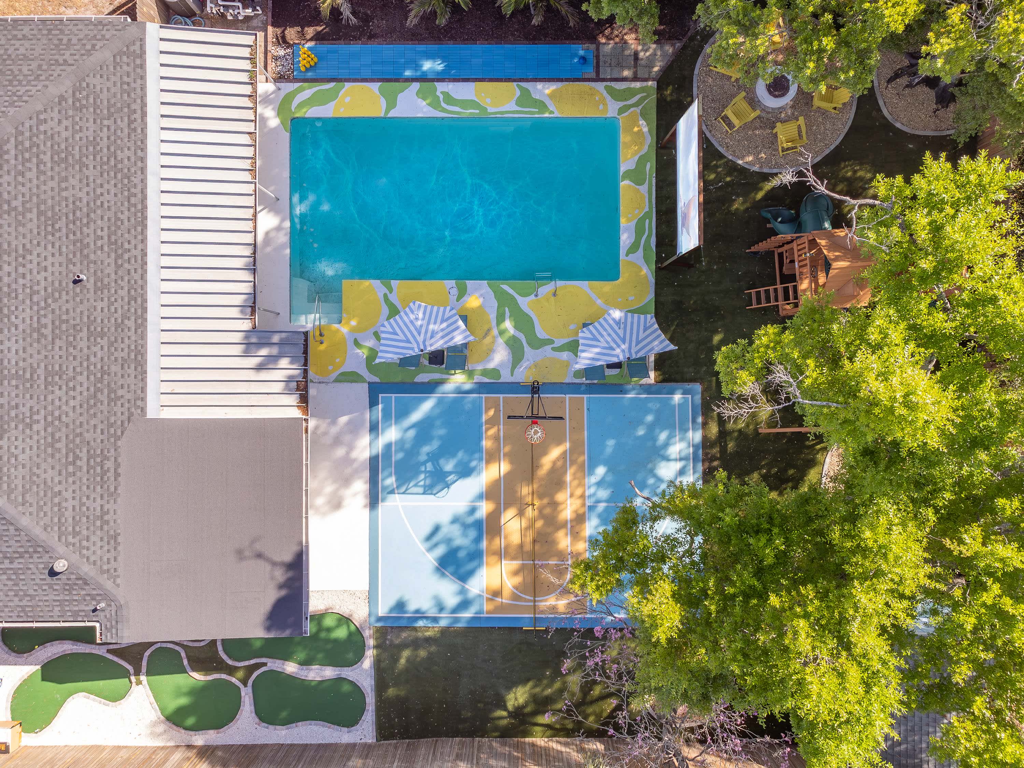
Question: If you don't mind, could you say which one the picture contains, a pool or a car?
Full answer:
I can see a pool in this picture.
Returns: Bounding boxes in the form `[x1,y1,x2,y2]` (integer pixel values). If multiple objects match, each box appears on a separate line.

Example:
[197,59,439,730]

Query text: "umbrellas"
[373,301,478,366]
[572,309,677,370]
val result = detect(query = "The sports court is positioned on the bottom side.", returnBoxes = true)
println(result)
[369,383,701,627]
